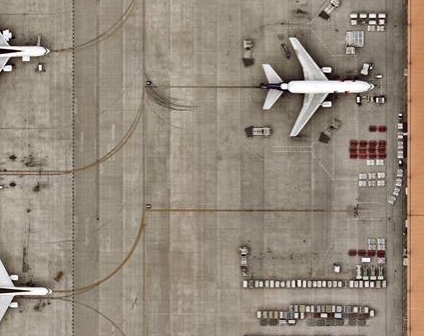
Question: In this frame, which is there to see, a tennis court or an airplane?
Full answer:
The image shows an airplane.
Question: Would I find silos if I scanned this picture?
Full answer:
No, no silo is visible in the view.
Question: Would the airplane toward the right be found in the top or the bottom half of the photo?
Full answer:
The airplane toward the right is in the top half of the image.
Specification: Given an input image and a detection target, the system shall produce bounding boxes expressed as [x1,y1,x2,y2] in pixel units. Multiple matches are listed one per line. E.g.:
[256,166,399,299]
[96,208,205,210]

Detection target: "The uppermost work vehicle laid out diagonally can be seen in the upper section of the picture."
[320,0,340,19]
